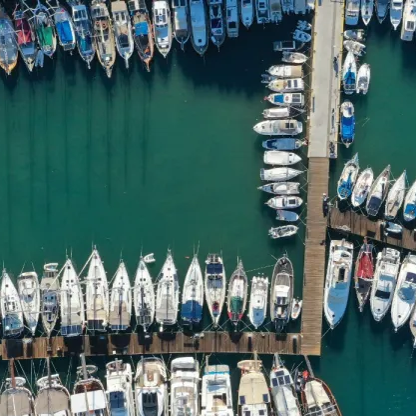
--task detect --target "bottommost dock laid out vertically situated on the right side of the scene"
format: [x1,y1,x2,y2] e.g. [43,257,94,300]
[301,157,330,355]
